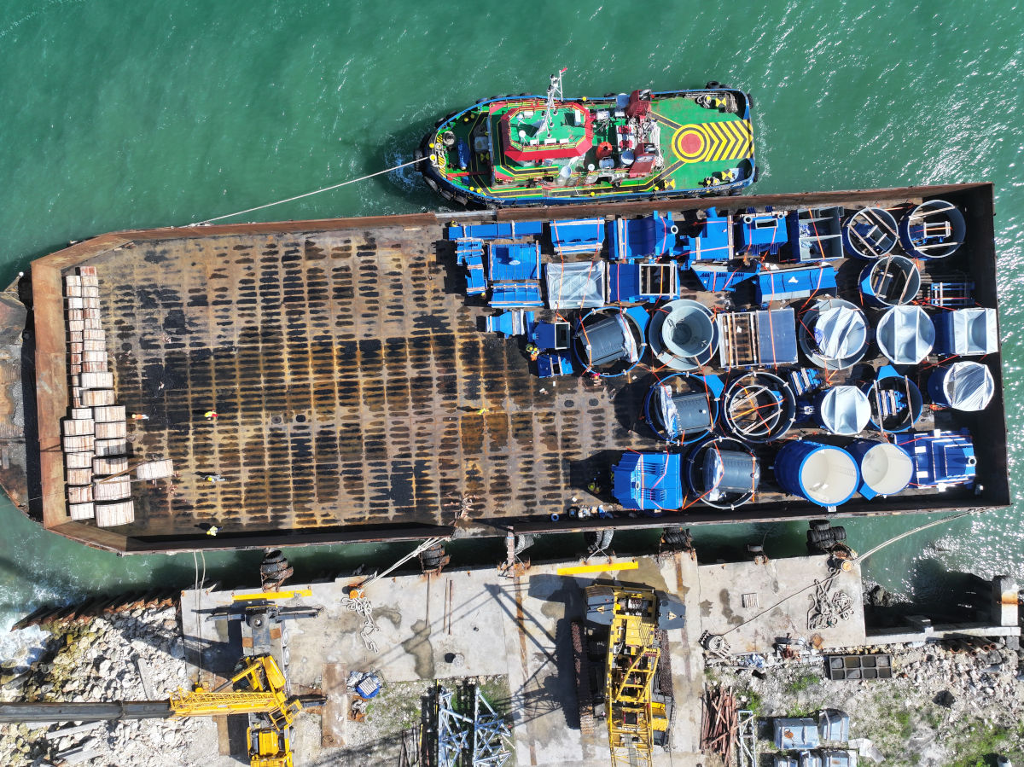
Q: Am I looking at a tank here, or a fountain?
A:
tank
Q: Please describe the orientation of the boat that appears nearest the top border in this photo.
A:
horizontally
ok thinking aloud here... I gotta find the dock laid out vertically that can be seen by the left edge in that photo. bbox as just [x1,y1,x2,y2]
[0,271,44,519]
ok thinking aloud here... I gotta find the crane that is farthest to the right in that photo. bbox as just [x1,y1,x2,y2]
[570,578,685,767]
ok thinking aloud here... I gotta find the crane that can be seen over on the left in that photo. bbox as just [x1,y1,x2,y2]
[0,602,333,767]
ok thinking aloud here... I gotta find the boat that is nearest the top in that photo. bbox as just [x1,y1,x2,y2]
[412,70,763,211]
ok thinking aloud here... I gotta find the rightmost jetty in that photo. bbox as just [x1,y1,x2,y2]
[982,569,1024,650]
